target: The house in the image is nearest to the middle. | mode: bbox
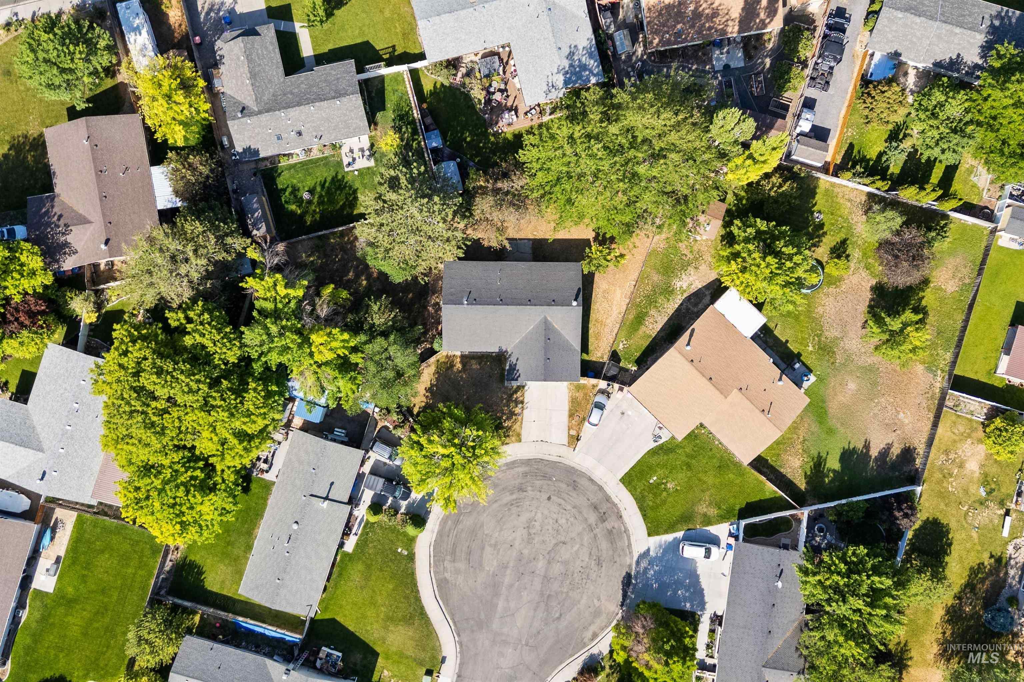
[443,261,582,382]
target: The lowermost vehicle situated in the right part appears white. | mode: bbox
[678,540,720,563]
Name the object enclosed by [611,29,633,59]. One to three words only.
greenhouse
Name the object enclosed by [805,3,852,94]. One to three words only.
truck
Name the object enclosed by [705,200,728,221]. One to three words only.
shed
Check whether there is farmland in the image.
No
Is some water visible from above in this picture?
No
